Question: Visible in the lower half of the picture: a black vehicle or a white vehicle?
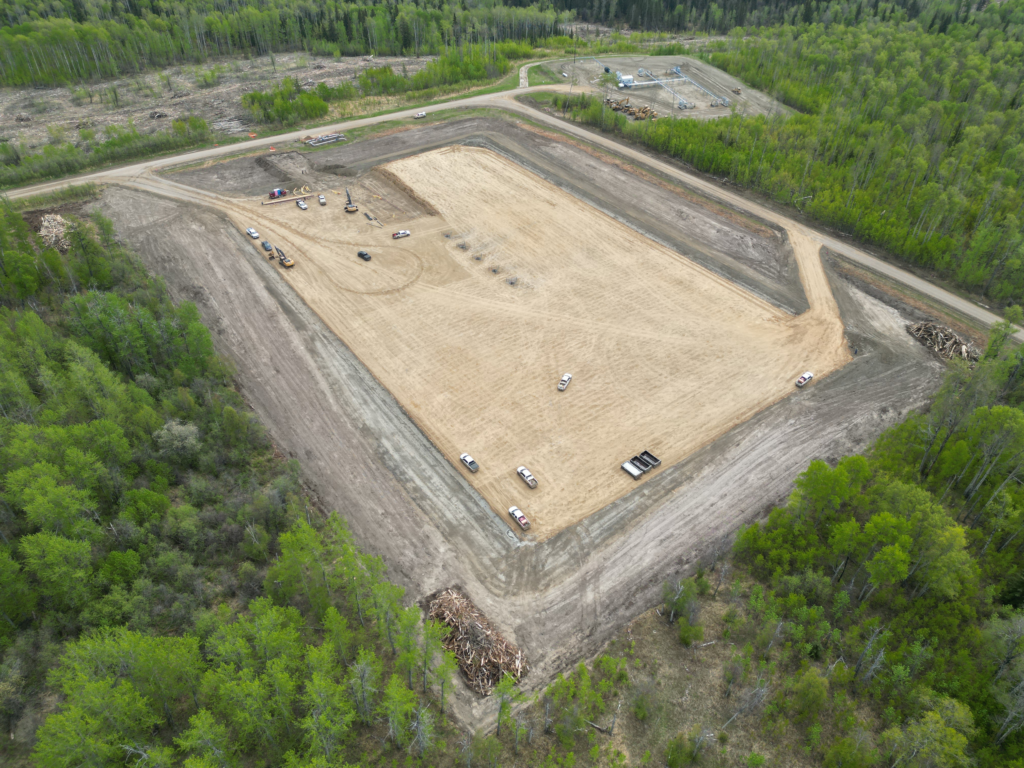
white vehicle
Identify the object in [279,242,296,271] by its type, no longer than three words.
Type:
work vehicle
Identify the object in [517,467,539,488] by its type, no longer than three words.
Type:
truck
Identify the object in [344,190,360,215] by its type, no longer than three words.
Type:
work vehicle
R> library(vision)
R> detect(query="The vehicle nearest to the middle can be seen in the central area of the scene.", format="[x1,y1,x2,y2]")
[558,375,572,391]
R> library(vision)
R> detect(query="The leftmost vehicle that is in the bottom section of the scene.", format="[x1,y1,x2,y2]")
[460,454,480,474]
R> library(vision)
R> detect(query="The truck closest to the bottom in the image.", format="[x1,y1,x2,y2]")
[509,507,532,531]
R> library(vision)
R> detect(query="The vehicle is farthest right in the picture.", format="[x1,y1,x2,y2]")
[795,374,813,388]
